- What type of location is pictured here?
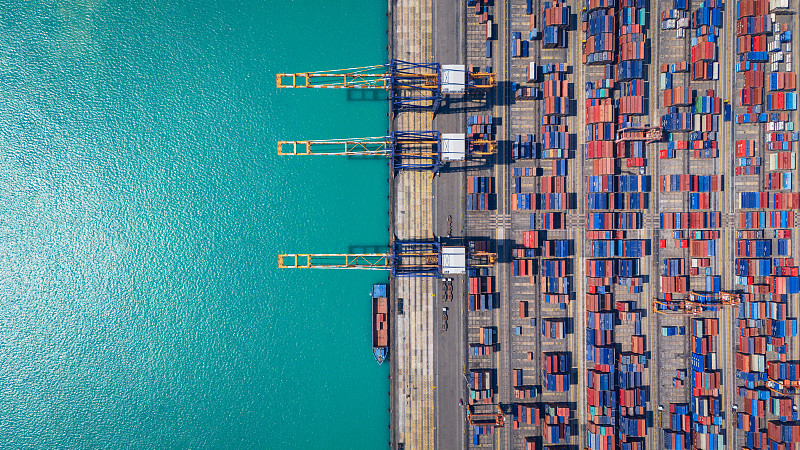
port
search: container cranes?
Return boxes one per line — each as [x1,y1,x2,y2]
[465,403,507,427]
[616,126,667,144]
[277,130,495,178]
[652,298,706,316]
[278,236,496,280]
[277,62,495,120]
[689,290,745,306]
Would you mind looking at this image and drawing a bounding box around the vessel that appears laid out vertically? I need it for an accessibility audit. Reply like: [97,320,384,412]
[370,274,391,373]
